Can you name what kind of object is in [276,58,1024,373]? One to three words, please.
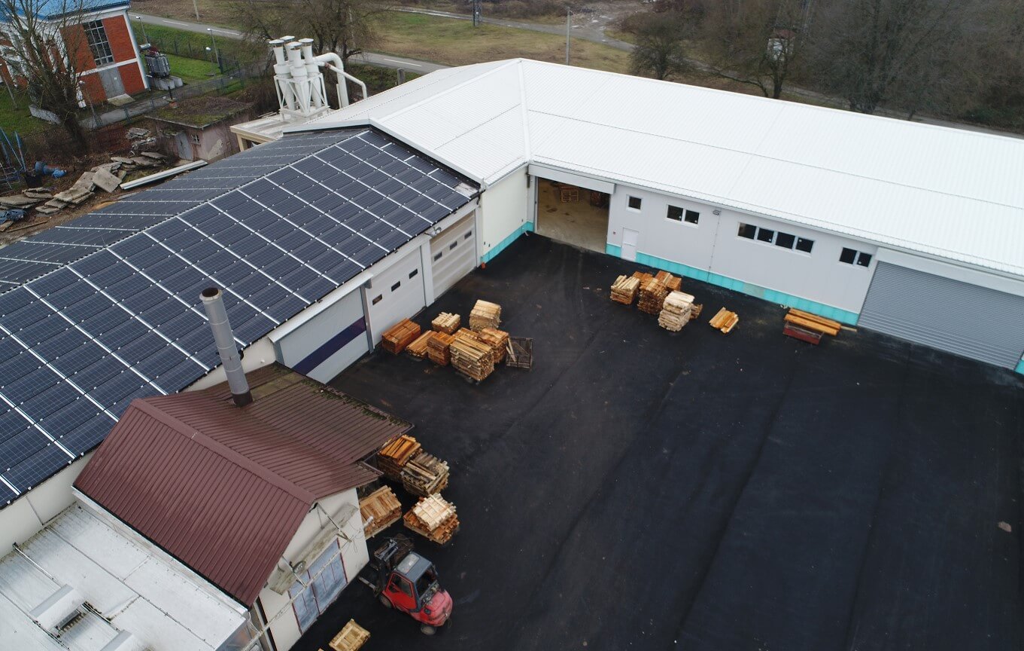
building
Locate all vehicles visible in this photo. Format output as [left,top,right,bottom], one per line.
[358,535,459,632]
